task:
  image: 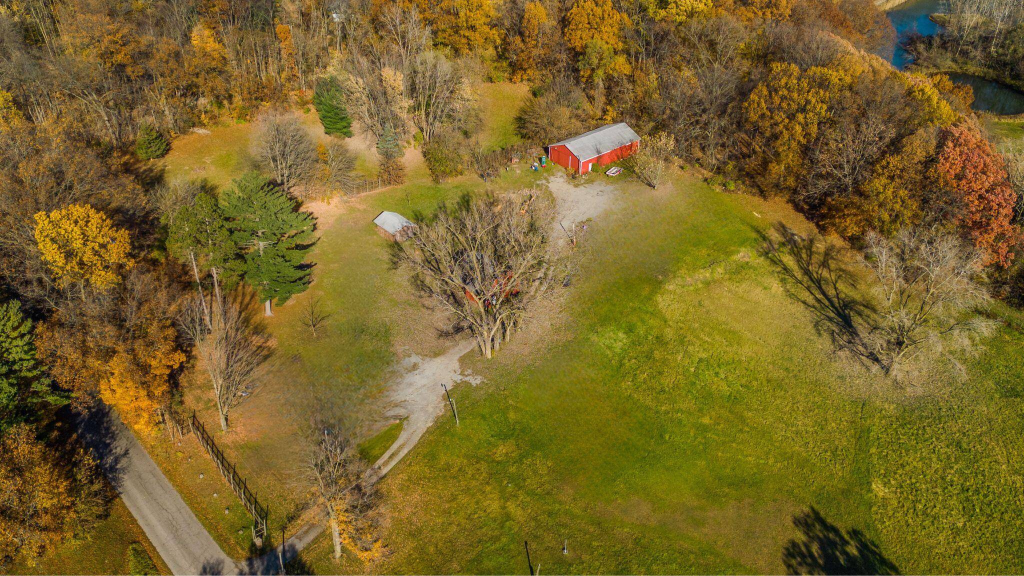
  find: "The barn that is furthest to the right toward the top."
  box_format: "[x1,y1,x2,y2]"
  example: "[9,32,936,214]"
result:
[542,124,645,175]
